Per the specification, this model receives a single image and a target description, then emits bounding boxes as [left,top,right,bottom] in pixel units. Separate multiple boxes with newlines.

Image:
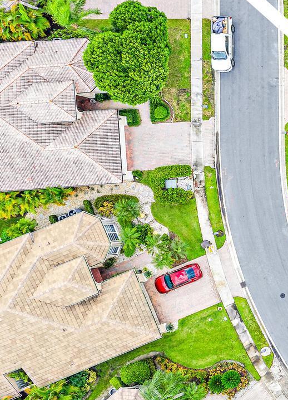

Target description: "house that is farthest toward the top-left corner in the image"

[0,37,128,191]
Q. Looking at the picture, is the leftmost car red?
Yes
